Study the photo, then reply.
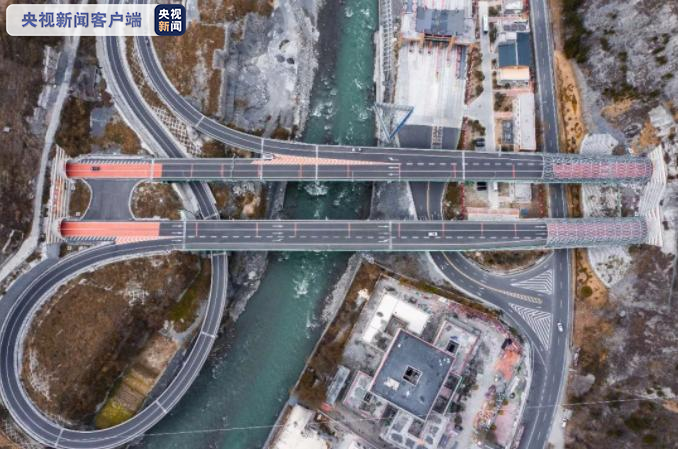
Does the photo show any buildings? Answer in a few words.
Yes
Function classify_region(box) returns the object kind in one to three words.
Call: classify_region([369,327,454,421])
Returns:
building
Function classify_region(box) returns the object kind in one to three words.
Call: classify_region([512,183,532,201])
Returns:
house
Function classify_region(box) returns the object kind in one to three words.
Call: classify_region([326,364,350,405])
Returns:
shed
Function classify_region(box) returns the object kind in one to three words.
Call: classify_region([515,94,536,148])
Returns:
house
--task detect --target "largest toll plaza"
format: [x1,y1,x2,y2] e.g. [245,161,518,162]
[399,8,476,53]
